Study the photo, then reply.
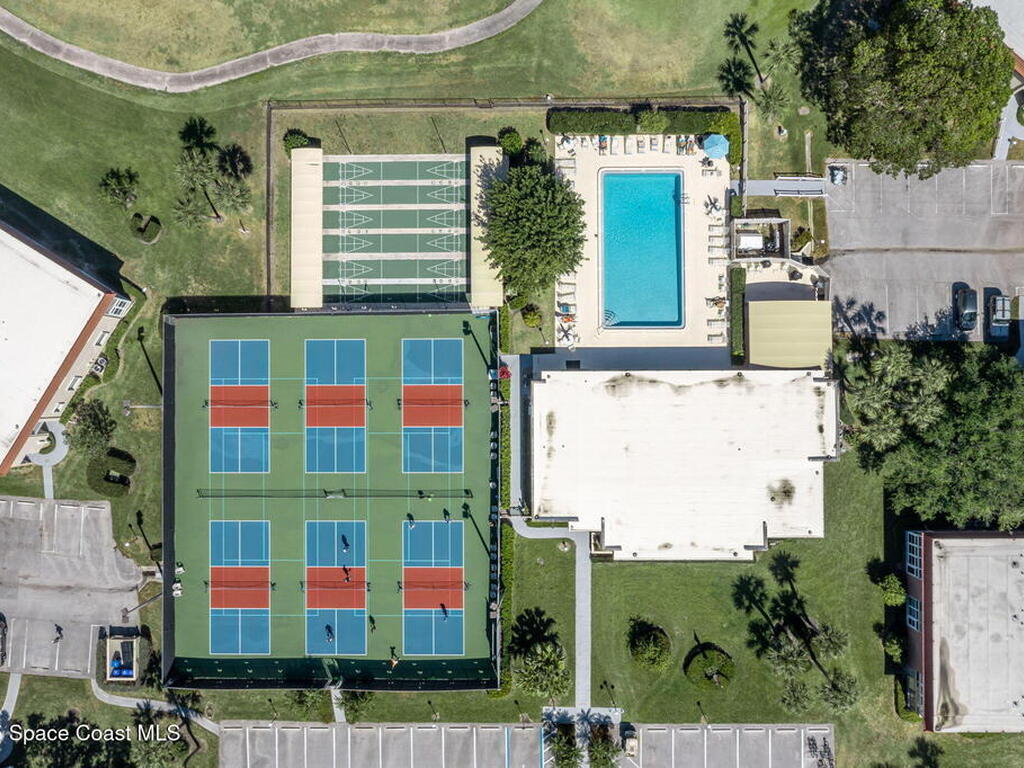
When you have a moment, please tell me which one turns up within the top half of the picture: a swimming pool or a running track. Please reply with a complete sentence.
There is a swimming pool within the top half of the picture.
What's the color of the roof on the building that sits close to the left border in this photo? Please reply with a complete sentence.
The color of the roof on the building that sits close to the left border is white.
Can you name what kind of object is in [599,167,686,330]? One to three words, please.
swimming pool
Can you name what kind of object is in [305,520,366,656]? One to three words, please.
sports court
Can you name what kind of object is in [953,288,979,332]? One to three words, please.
car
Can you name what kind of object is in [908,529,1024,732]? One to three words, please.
building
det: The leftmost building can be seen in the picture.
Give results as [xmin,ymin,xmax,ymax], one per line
[0,212,134,518]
